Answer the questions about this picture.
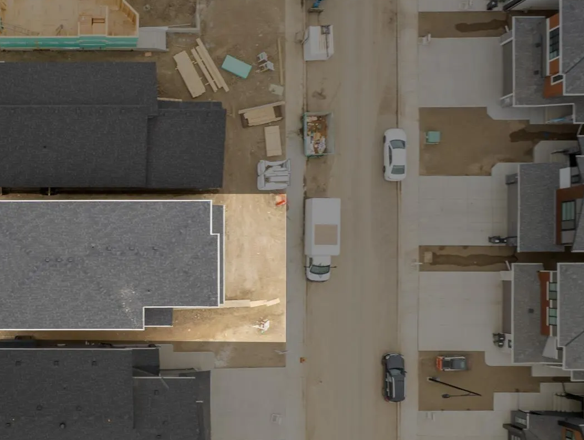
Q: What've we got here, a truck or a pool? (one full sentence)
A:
The one in the frame is a truck.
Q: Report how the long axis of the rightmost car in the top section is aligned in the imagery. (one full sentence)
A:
Seen from above, the rightmost car in the top section lies from top to bottom.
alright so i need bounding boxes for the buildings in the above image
[0,199,225,332]
[507,394,584,440]
[506,134,584,254]
[494,0,584,125]
[0,336,212,440]
[0,0,199,52]
[502,261,584,383]
[0,61,226,199]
